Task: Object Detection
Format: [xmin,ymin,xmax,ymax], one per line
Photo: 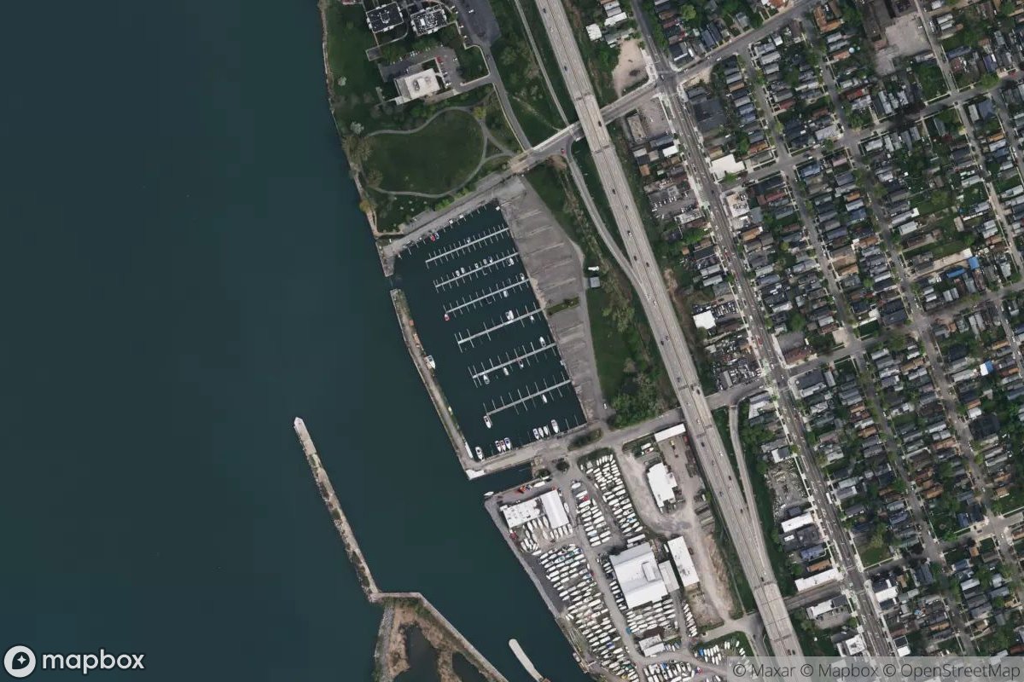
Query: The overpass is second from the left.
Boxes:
[676,381,716,437]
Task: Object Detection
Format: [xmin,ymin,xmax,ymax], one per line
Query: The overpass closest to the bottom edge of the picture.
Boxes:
[753,582,795,644]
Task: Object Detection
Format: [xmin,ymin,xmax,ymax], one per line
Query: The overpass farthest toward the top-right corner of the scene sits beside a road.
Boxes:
[573,91,613,155]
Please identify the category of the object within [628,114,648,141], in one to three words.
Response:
building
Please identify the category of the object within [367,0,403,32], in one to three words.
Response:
building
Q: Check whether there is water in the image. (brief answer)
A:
Yes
